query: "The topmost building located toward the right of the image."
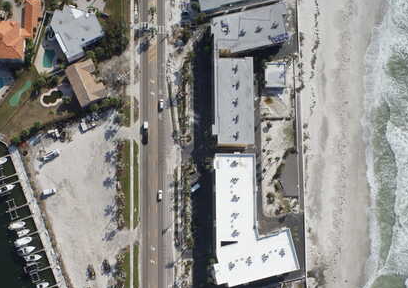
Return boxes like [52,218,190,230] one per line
[210,2,288,59]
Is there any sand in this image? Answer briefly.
Yes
